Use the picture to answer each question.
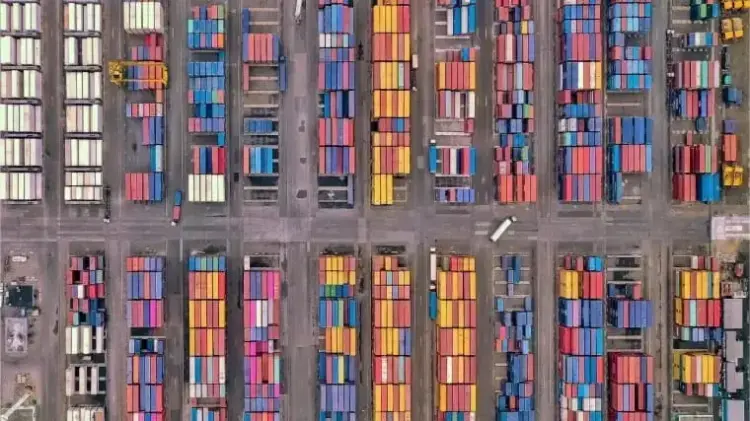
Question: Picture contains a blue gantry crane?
No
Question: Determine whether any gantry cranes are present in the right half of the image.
No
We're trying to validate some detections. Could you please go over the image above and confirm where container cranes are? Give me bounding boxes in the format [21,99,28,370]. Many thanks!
[110,62,171,94]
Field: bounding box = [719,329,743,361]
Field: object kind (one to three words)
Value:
building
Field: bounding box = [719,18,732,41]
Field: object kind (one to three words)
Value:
vehicle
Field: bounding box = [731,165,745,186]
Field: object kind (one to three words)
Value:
vehicle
